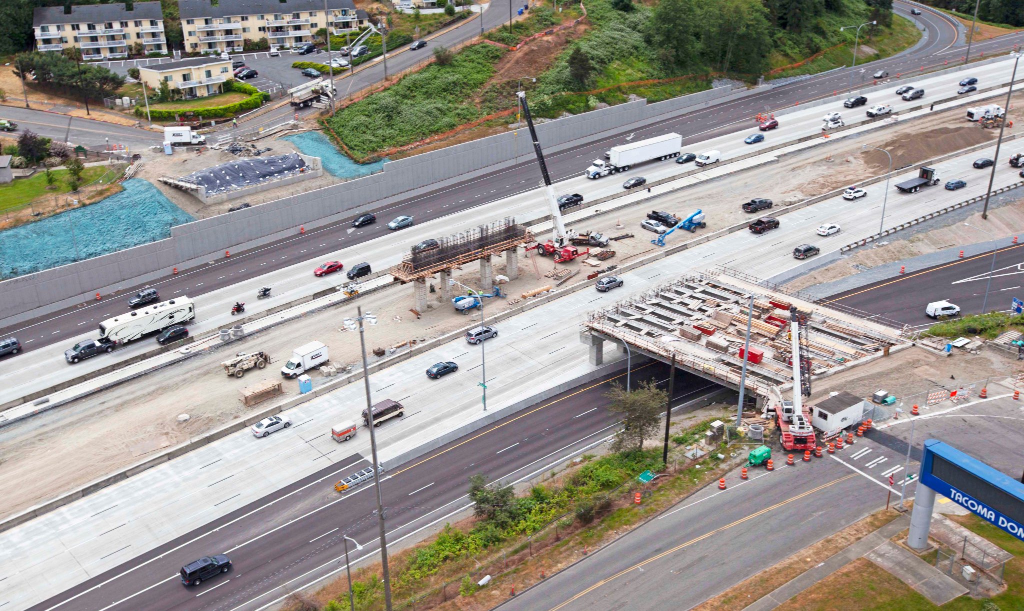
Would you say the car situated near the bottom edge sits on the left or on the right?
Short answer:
left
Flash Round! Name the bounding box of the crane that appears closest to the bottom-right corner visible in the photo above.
[757,305,821,454]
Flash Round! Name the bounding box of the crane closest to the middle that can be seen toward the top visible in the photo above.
[518,90,587,270]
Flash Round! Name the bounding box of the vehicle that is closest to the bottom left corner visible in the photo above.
[177,553,233,590]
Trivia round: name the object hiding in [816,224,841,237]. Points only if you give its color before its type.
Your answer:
white vehicle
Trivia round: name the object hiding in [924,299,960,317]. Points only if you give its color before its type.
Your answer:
white vehicle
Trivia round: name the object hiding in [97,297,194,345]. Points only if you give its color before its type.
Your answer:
white trailer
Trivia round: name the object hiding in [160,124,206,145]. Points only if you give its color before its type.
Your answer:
white truck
